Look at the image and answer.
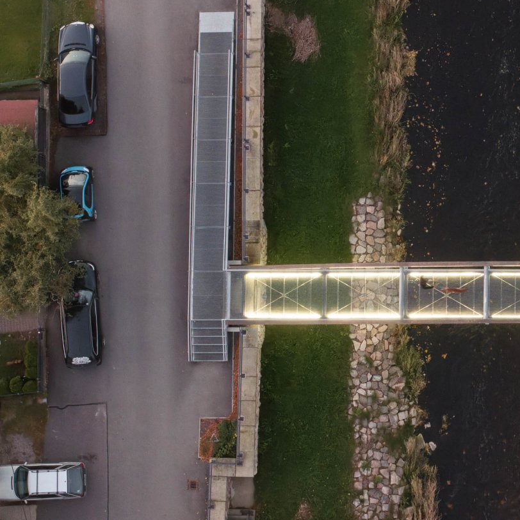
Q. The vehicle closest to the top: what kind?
automobile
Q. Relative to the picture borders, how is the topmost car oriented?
up and down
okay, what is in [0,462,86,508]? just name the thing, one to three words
car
